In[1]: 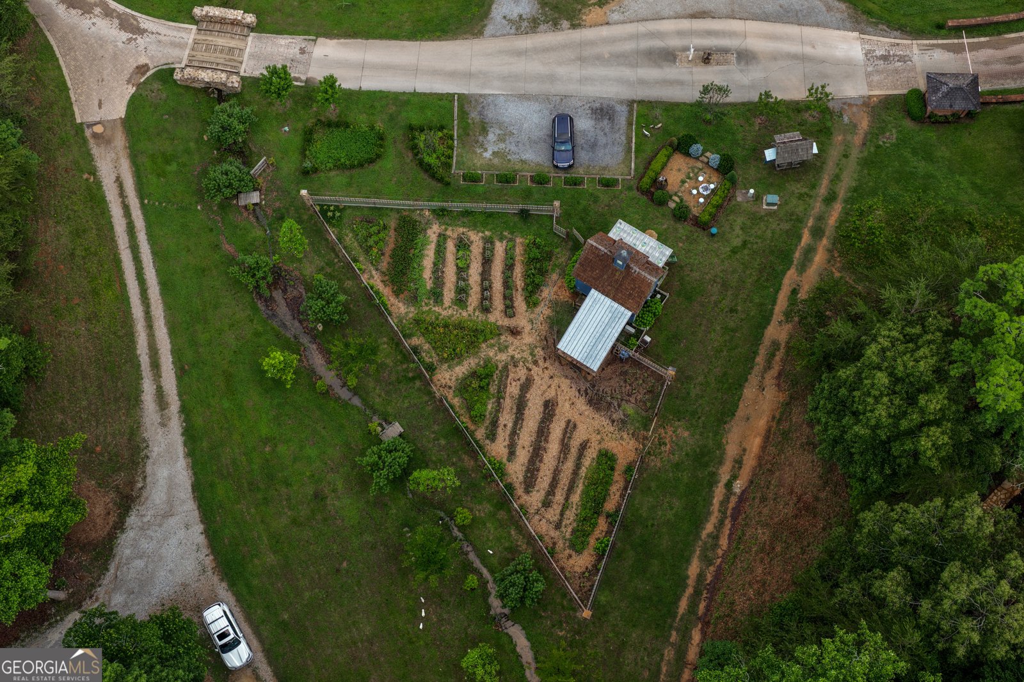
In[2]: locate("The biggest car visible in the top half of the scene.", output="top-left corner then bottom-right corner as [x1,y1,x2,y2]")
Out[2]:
[550,114,577,168]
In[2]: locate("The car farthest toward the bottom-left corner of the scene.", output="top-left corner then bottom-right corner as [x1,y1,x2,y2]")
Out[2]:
[204,601,252,674]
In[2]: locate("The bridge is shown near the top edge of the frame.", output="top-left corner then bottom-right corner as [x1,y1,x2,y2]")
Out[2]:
[173,22,261,75]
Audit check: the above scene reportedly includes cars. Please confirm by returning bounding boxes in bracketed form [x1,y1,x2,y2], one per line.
[550,114,577,168]
[204,601,252,674]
